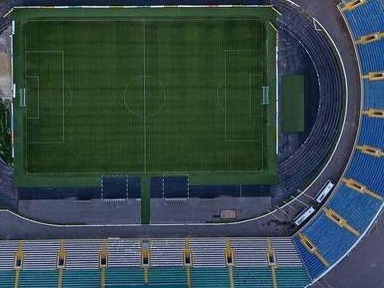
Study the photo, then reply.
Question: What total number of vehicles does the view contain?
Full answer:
In total, 2 vehicles can be seen.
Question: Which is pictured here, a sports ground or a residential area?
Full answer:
This image shows a sports ground.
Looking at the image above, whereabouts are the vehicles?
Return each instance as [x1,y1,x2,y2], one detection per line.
[311,179,334,204]
[291,204,317,227]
